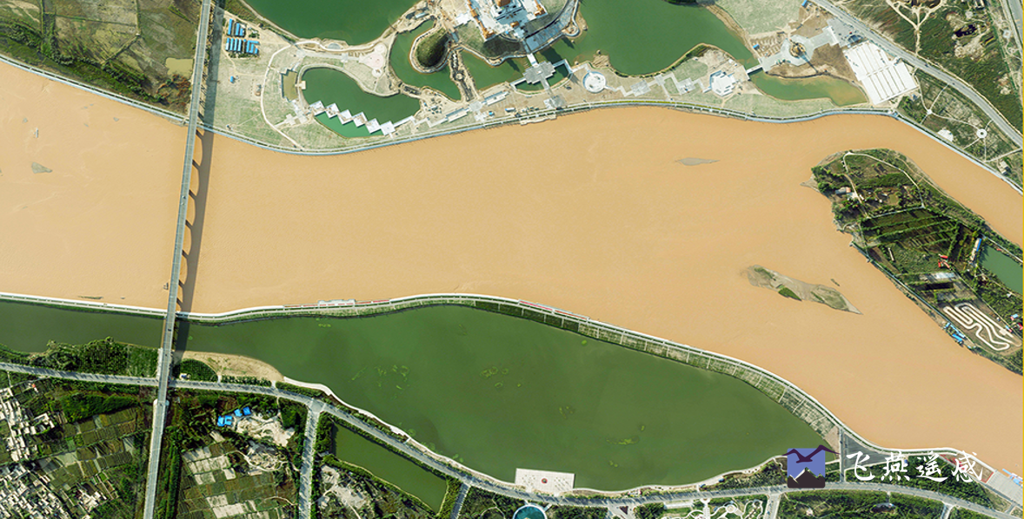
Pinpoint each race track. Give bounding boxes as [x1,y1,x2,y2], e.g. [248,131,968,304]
[942,302,1023,352]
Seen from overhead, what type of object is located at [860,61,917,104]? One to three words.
greenhouse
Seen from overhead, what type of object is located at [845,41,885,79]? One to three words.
greenhouse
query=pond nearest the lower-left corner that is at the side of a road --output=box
[333,424,446,512]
